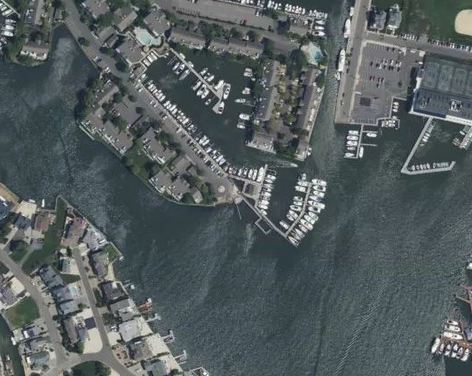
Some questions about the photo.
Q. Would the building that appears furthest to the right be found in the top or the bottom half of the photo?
top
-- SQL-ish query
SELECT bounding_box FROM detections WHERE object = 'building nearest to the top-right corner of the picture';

[388,1,407,30]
